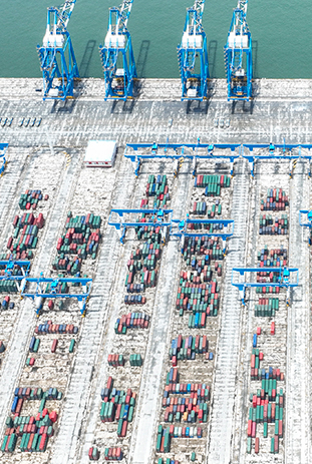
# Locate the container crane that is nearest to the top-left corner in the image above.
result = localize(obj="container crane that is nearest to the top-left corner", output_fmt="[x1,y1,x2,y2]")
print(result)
[35,0,83,100]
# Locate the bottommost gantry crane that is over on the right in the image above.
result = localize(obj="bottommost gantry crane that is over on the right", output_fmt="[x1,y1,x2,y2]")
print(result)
[231,262,298,306]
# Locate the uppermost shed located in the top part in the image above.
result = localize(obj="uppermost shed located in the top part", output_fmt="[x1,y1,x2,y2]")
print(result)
[84,141,117,167]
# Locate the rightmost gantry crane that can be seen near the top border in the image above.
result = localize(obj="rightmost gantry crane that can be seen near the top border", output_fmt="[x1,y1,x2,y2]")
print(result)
[223,0,258,101]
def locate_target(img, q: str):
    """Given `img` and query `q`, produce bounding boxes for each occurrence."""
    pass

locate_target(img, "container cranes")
[109,203,174,245]
[125,138,185,177]
[223,0,258,101]
[0,144,15,176]
[97,0,141,100]
[169,213,234,255]
[183,138,243,176]
[35,0,83,100]
[0,255,32,299]
[175,0,214,100]
[231,262,298,306]
[299,208,312,246]
[243,138,300,176]
[21,272,94,317]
